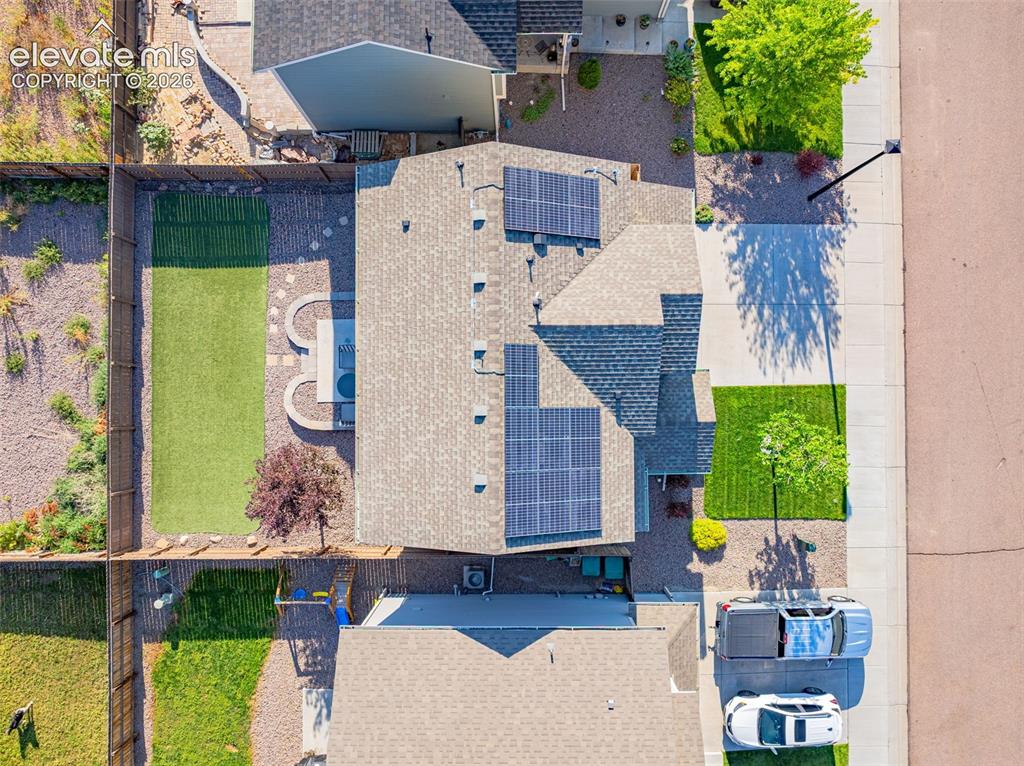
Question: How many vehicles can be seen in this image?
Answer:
2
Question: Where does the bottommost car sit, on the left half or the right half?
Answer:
right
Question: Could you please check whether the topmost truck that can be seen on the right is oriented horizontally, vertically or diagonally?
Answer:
horizontally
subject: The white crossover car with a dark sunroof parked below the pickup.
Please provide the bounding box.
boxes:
[724,688,843,756]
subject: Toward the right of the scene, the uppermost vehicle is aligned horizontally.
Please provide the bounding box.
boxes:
[706,598,871,668]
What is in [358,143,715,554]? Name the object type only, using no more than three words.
house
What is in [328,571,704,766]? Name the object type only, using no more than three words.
house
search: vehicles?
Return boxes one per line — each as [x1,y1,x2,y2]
[706,598,871,668]
[724,688,843,756]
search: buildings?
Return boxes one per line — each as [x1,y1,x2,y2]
[358,143,715,554]
[253,0,665,137]
[328,571,704,766]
